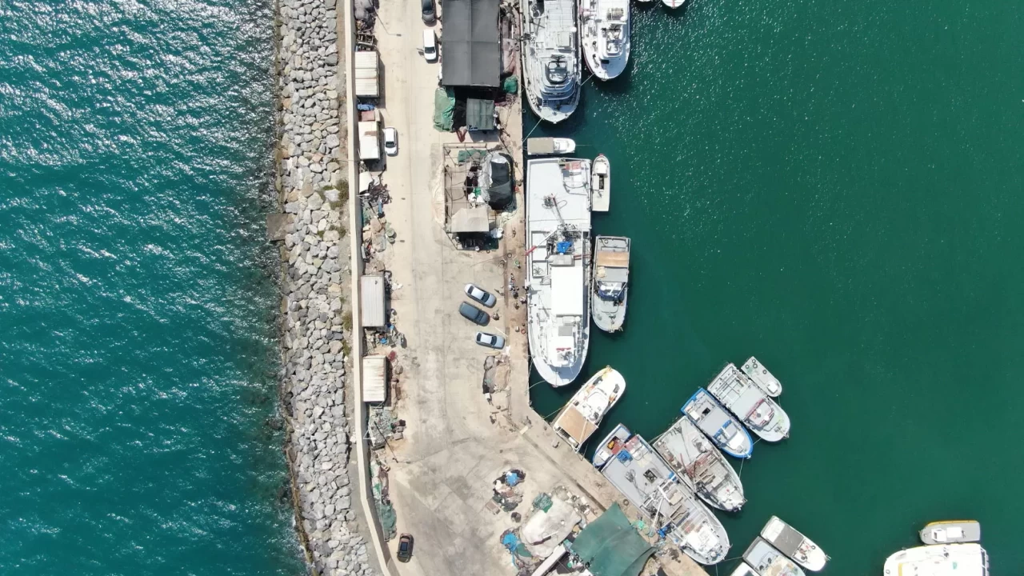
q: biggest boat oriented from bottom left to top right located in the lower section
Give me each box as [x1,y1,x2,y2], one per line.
[552,365,622,449]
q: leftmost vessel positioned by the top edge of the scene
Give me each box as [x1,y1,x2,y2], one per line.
[520,0,584,123]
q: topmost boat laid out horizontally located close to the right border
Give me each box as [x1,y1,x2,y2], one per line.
[918,520,980,545]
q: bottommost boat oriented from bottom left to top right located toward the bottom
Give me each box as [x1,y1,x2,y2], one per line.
[595,425,631,468]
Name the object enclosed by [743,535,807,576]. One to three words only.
boat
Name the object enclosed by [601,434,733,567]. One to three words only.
vessel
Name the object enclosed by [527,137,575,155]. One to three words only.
boat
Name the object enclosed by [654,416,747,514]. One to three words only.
vessel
